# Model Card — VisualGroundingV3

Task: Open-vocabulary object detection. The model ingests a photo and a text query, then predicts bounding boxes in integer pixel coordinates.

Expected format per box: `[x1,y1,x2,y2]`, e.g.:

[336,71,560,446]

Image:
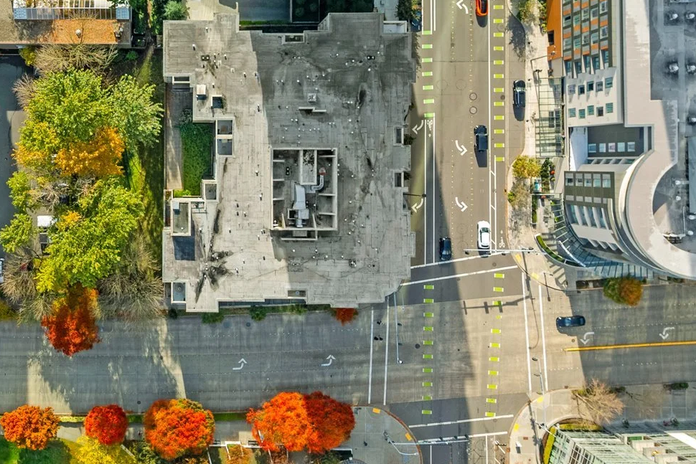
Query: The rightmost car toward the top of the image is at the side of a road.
[512,82,527,109]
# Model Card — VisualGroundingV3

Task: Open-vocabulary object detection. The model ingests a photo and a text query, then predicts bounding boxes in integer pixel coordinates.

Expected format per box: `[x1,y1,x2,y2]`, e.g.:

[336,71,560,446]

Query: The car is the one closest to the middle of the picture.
[438,235,452,263]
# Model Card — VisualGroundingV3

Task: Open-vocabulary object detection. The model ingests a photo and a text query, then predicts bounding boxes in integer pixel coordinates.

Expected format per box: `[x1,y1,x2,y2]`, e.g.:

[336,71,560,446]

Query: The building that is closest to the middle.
[163,12,416,312]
